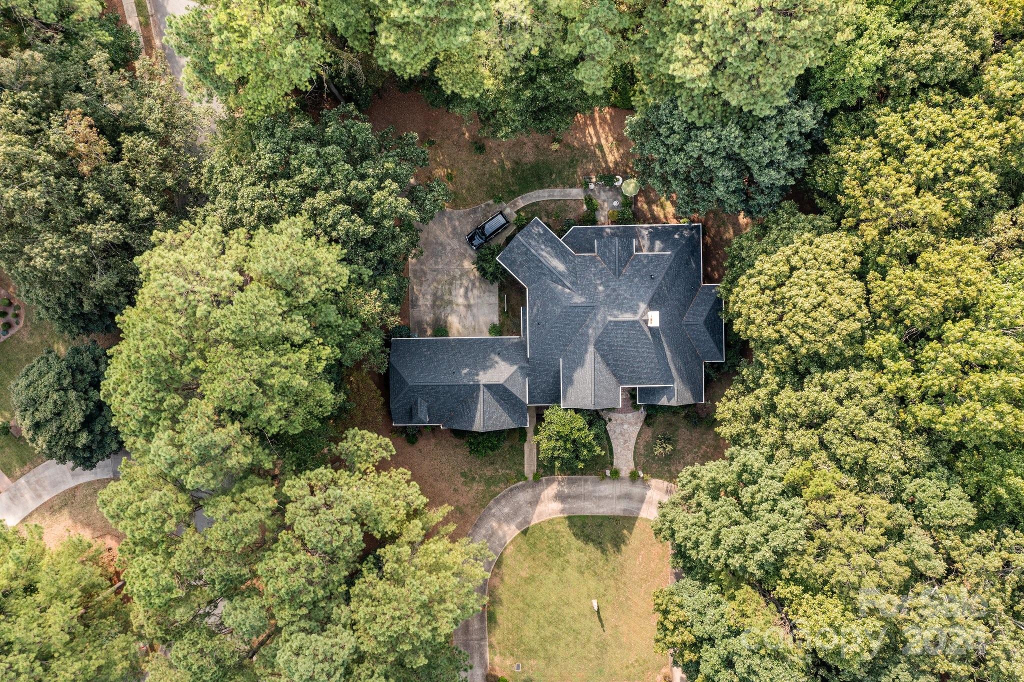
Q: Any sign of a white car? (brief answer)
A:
No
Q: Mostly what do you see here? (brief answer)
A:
trees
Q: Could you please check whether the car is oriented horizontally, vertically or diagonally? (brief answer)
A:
diagonally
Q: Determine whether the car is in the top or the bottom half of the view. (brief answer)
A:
top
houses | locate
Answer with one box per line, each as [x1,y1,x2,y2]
[389,217,725,432]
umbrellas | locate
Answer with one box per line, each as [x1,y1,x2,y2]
[621,178,639,196]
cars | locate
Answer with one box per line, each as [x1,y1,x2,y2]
[467,212,510,248]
